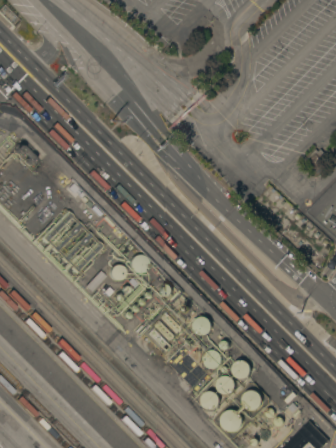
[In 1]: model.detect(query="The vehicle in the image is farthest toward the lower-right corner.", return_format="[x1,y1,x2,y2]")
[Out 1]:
[308,390,336,419]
